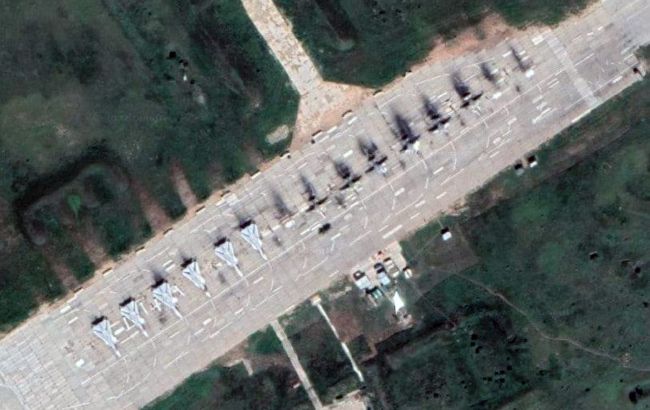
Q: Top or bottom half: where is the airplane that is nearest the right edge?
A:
top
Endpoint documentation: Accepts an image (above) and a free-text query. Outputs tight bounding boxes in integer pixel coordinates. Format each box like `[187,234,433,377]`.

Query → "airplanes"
[305,197,329,223]
[364,159,388,183]
[398,138,421,162]
[240,222,268,261]
[119,300,149,338]
[92,319,120,357]
[460,95,484,120]
[153,282,183,319]
[340,176,364,200]
[215,239,243,277]
[428,117,453,142]
[180,260,211,297]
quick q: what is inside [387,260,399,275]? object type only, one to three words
vehicle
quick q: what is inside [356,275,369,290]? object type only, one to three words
vehicle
